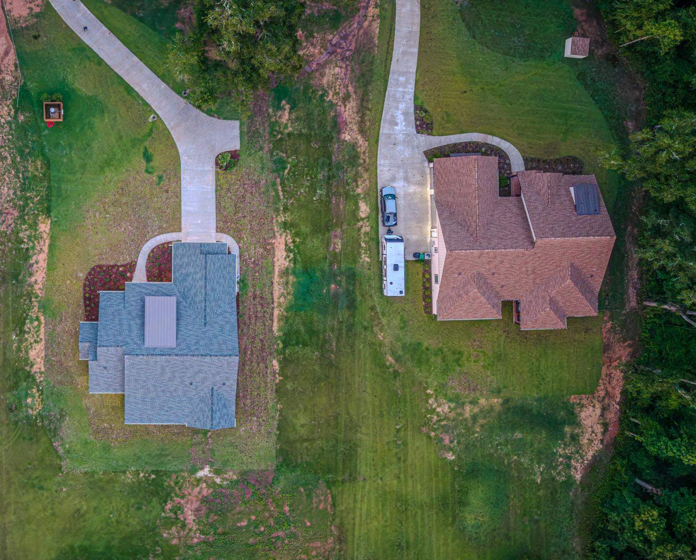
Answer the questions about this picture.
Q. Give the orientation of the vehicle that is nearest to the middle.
vertically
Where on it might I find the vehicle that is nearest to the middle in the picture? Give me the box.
[381,228,404,297]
